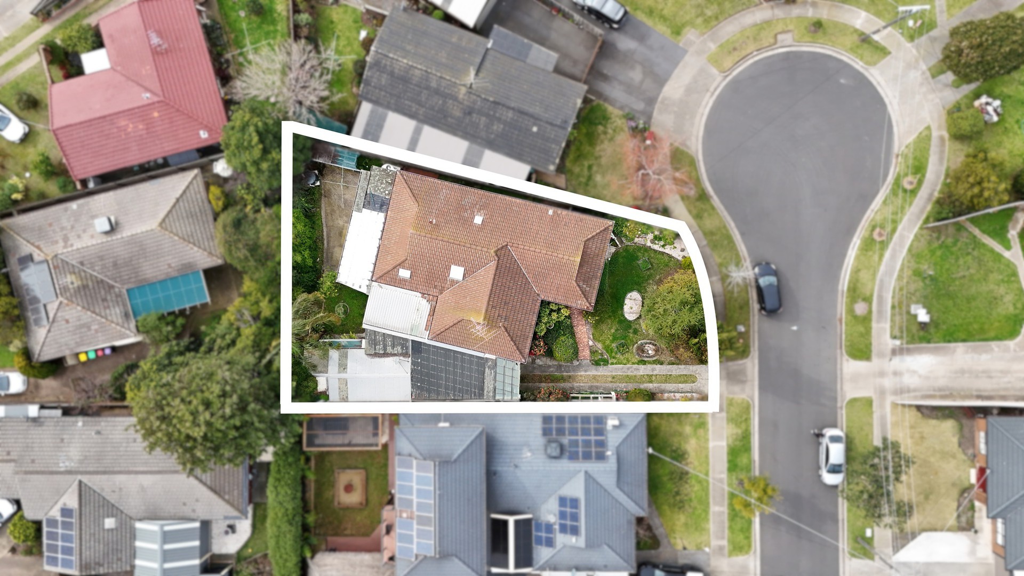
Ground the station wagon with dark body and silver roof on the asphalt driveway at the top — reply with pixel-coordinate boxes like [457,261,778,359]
[571,0,631,30]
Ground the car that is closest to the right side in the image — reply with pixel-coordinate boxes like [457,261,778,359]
[820,429,850,487]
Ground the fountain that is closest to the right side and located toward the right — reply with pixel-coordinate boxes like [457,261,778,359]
[634,340,661,360]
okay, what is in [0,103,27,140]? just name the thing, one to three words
car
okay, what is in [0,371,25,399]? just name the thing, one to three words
car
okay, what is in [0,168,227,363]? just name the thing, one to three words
house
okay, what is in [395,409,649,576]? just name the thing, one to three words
house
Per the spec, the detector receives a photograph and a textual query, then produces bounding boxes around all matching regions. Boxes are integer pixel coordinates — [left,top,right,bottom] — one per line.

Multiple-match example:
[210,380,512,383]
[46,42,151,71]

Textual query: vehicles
[571,0,631,30]
[0,103,27,140]
[752,261,783,315]
[0,371,25,399]
[820,429,850,487]
[0,499,16,524]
